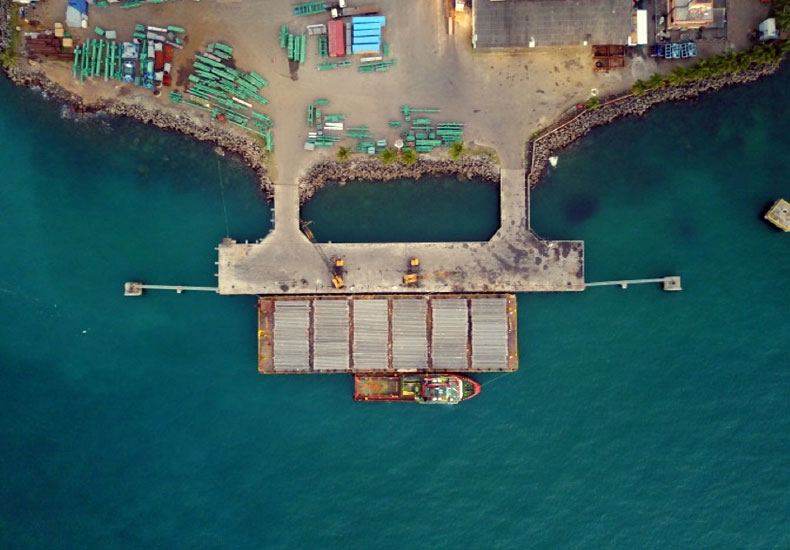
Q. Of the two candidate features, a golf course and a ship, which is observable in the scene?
ship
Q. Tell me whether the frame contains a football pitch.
No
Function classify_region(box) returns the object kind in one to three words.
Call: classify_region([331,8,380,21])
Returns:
vehicle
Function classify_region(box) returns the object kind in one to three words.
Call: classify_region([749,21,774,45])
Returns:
truck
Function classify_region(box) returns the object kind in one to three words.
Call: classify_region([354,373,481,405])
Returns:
ship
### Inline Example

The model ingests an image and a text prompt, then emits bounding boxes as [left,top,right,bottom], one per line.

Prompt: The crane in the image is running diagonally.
[302,223,349,291]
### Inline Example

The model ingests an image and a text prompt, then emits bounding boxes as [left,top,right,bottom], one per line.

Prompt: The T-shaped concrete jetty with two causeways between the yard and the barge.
[214,168,585,294]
